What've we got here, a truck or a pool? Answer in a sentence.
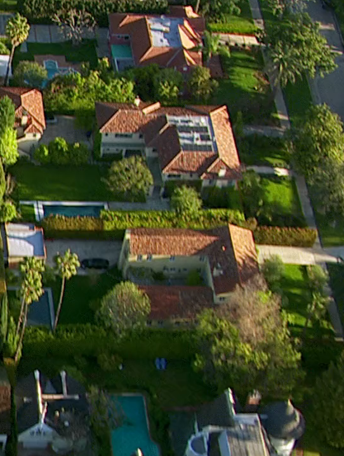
The image shows a pool.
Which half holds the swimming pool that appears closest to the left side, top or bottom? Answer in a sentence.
You can find the swimming pool that appears closest to the left side in the bottom half.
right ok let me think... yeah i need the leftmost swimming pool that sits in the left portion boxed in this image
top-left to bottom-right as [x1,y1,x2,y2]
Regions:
[25,287,56,332]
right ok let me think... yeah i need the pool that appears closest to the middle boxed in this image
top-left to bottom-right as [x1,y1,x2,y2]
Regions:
[40,202,106,218]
